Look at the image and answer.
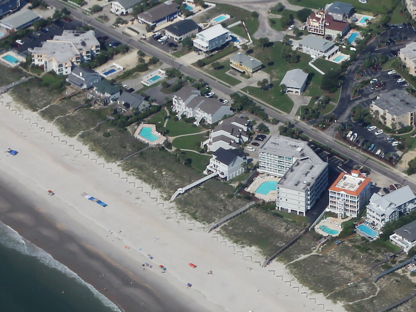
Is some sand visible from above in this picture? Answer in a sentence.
Yes, sand can be seen from above here.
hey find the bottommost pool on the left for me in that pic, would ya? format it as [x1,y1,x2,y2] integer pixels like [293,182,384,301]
[135,122,166,145]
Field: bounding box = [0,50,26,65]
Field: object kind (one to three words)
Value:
swimming pool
